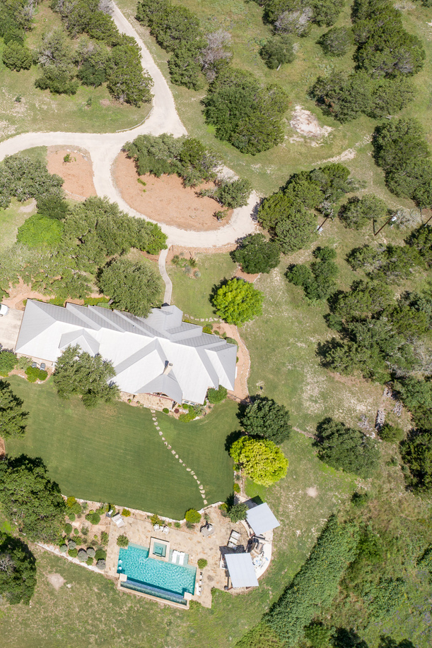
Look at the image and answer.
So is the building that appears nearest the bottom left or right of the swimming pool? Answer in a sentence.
Relative to the swimming pool, the building that appears nearest the bottom lies to the right.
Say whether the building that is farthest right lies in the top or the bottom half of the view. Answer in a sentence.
Seen from above, the building that is farthest right lies in the bottom half of the view.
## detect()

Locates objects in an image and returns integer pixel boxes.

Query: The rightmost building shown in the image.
[243,503,280,537]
